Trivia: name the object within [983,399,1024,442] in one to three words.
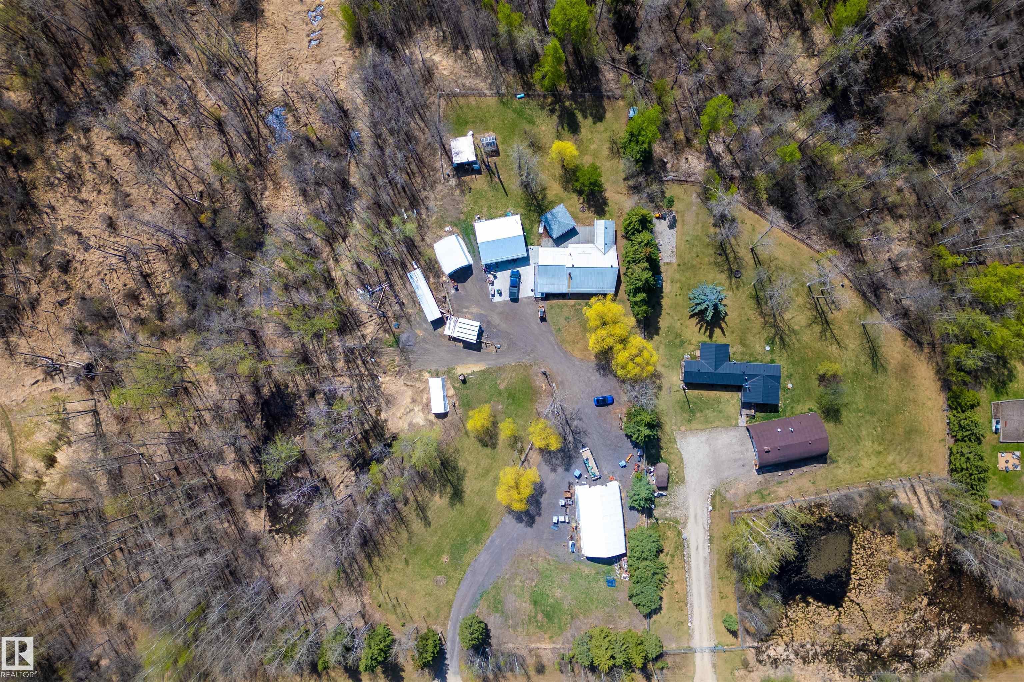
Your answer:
house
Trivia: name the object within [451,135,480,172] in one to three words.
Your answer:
shed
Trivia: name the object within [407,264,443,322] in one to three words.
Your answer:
trailer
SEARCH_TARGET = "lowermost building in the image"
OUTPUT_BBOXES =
[573,485,626,559]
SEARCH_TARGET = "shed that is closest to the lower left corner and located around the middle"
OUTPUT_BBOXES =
[428,379,447,412]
